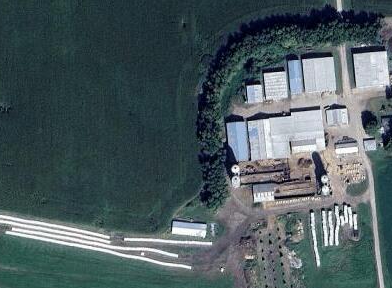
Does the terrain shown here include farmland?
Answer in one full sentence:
Yes, the picture does contain farmland.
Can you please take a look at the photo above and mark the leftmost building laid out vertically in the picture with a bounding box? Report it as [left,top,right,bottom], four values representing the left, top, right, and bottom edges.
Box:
[227,121,248,161]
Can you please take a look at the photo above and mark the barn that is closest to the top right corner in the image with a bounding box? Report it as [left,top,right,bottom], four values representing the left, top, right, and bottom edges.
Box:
[353,51,389,89]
